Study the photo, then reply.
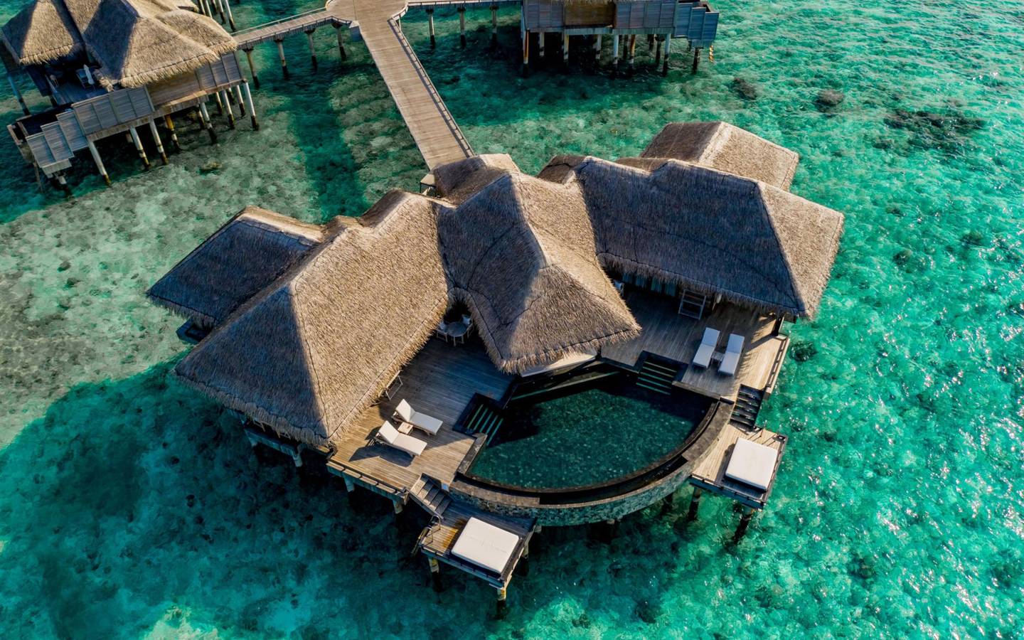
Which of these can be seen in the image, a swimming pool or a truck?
swimming pool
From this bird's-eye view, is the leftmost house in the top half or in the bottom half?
top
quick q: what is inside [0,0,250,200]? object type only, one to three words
house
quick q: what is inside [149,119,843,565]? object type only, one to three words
house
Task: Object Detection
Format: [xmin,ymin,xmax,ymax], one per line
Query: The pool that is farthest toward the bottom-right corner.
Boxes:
[443,344,741,558]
